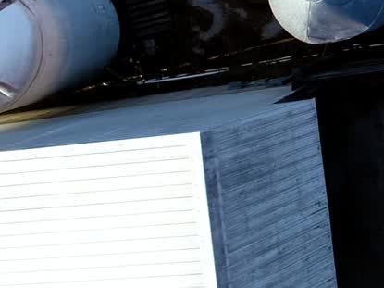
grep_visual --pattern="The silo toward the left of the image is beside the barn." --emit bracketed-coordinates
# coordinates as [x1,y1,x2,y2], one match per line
[0,0,116,113]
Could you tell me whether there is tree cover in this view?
No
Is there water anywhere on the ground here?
No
